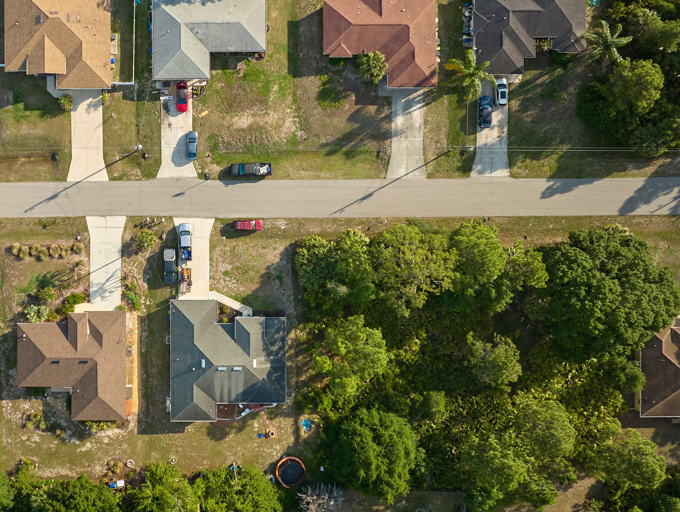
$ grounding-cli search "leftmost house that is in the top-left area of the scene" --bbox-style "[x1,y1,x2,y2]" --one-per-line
[4,0,111,89]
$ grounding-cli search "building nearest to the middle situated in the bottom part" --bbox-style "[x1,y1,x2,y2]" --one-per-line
[170,300,287,421]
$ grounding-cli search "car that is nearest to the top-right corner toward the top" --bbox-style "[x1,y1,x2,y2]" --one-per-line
[494,79,510,107]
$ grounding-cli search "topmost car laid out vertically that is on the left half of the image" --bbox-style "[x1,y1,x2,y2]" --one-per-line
[176,82,189,112]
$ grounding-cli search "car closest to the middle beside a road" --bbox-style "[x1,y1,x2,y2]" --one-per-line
[233,219,262,233]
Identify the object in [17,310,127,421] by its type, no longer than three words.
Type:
house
